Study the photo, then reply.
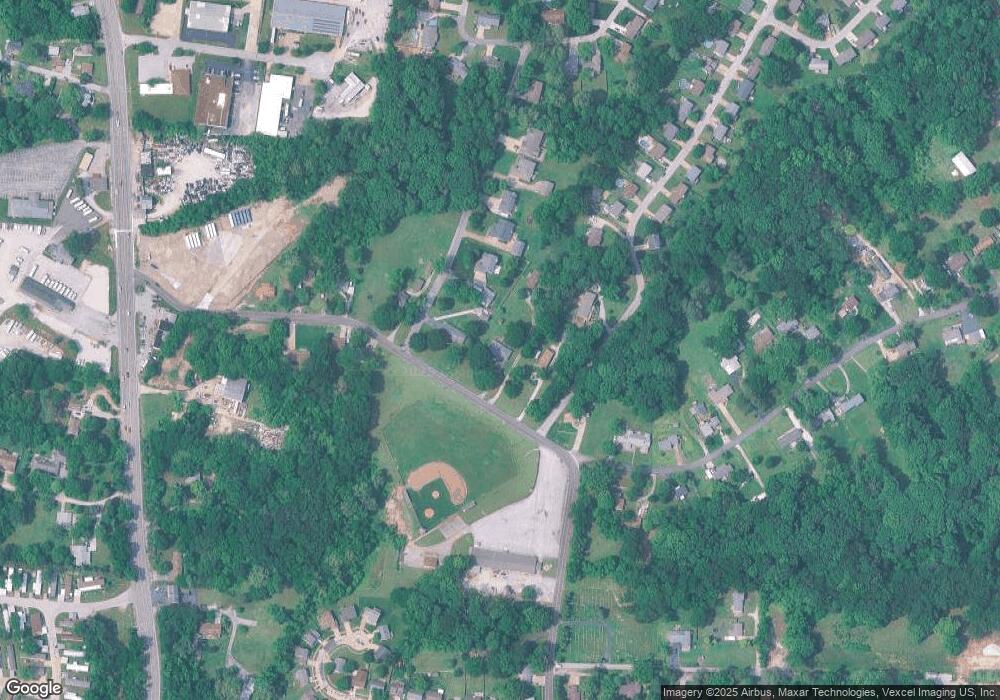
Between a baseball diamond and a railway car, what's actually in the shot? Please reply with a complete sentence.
It is a baseball diamond that can be seen here.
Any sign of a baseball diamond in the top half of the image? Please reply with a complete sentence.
No, I see no baseball diamond in the top half of the image.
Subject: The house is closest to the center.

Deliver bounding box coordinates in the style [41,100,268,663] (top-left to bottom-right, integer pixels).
[488,338,514,364]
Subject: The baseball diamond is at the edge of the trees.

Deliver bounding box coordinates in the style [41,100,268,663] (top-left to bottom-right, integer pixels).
[385,400,517,533]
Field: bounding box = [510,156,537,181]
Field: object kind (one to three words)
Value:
house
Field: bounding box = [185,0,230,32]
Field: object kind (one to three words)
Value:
building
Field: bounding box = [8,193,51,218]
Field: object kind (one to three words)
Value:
building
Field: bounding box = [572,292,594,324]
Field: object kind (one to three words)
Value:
house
